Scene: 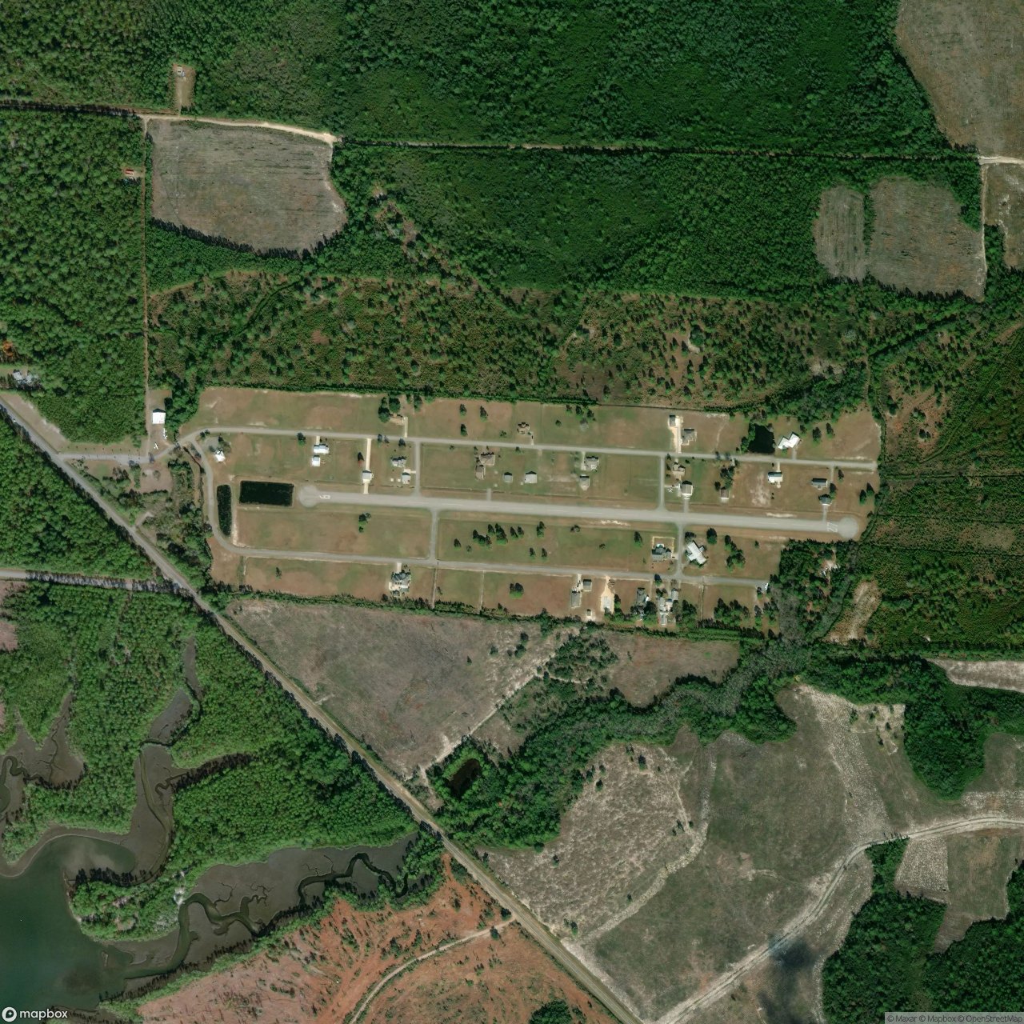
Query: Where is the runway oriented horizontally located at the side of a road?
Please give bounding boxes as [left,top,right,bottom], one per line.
[300,486,860,537]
